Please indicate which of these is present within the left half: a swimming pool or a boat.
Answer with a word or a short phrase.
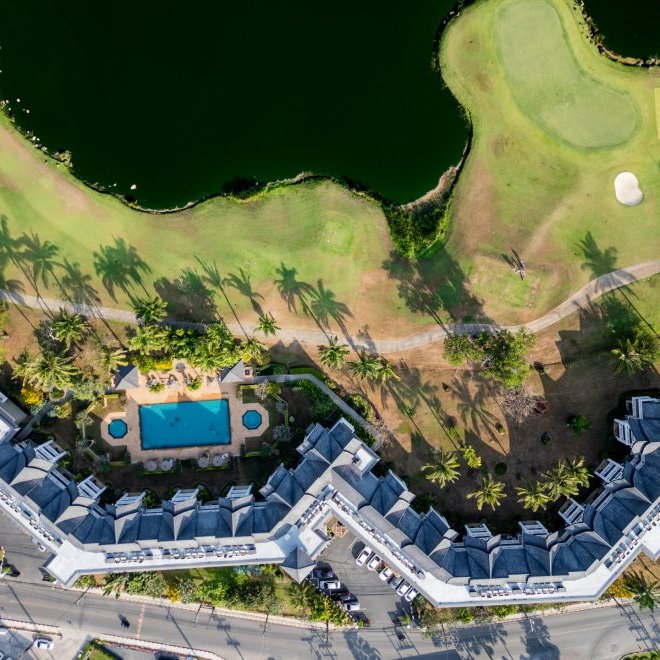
swimming pool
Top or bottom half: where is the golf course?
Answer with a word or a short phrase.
top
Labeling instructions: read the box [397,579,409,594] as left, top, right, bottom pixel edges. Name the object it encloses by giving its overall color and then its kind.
white vehicle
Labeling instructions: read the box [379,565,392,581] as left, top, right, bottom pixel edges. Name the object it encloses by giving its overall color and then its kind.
white vehicle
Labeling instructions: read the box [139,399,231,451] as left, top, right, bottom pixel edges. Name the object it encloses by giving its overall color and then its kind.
blue swimming pool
